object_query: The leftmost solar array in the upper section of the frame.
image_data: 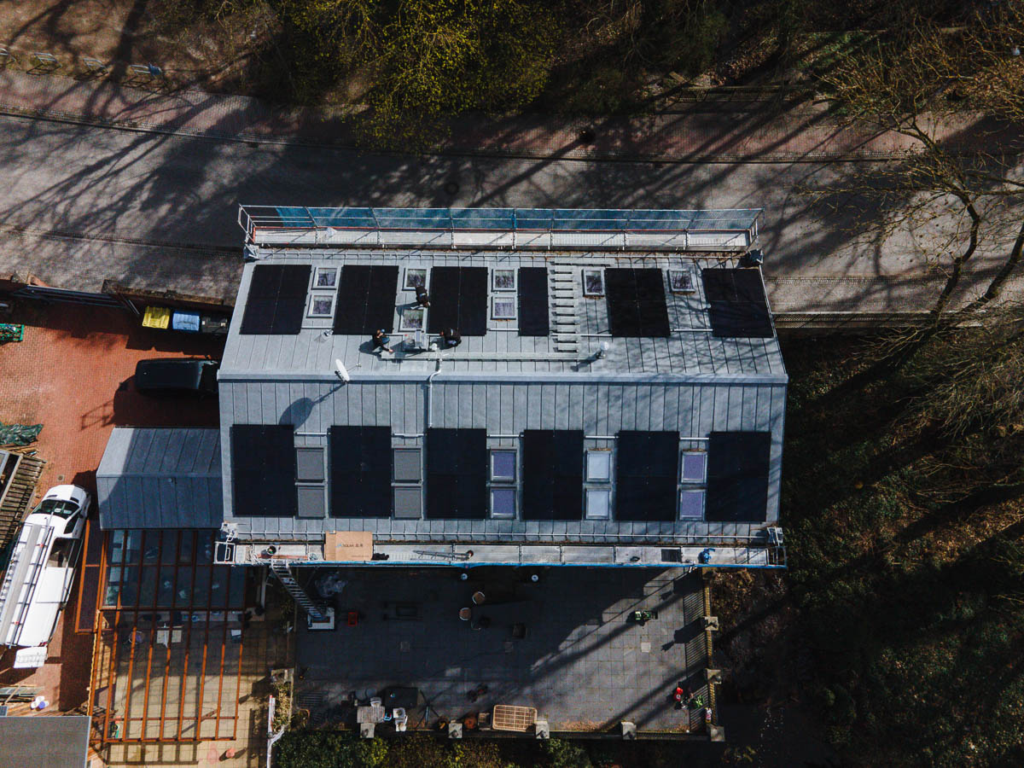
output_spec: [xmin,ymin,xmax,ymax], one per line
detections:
[240,265,313,334]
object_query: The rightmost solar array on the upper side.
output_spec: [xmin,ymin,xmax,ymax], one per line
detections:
[701,269,773,338]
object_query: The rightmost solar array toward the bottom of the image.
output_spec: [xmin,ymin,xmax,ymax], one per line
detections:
[706,432,770,522]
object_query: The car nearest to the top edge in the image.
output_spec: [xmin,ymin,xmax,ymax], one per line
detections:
[130,360,217,403]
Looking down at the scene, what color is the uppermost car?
black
